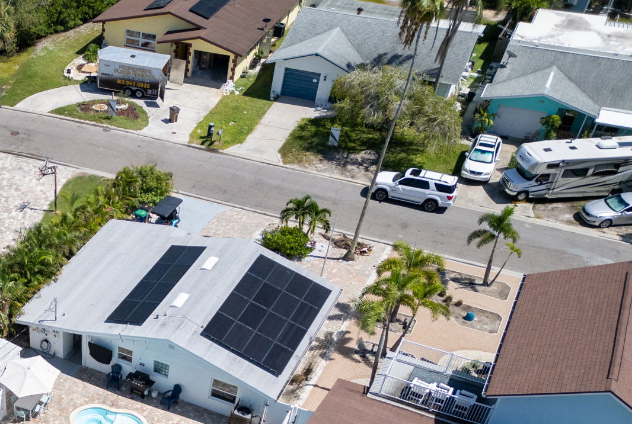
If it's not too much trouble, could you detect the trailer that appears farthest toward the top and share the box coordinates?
[92,47,181,98]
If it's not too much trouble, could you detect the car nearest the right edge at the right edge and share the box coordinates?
[577,191,632,227]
